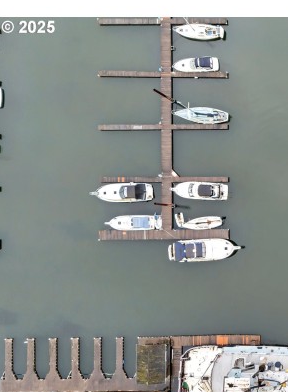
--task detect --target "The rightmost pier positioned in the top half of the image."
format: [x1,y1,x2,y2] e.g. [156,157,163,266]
[98,0,230,241]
